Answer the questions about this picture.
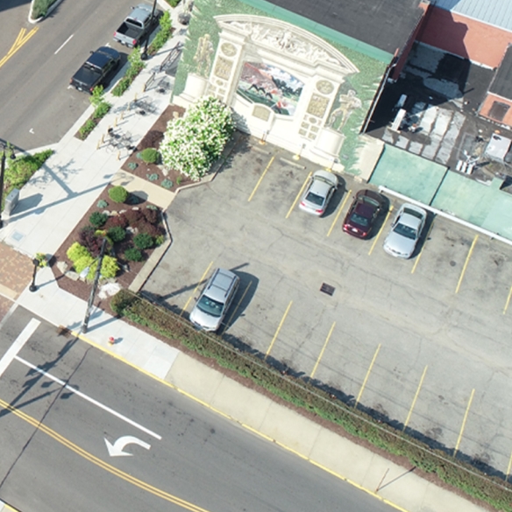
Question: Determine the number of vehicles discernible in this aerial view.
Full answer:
There are 6 vehicles in the image.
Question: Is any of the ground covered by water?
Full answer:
No, the picture contains no water.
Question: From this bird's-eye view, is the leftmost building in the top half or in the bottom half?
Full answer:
The leftmost building sits in the top half of the picture.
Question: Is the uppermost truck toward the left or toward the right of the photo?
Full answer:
The uppermost truck is on the left side of the image.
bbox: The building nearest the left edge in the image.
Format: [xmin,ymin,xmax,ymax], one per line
[171,0,424,174]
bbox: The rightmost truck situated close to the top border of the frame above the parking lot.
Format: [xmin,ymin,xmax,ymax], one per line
[112,6,158,48]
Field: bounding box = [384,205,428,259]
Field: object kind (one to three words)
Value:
car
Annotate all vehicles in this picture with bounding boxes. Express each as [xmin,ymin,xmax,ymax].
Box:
[384,205,428,259]
[68,49,121,95]
[112,6,158,48]
[297,173,338,218]
[189,266,240,331]
[342,193,386,241]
